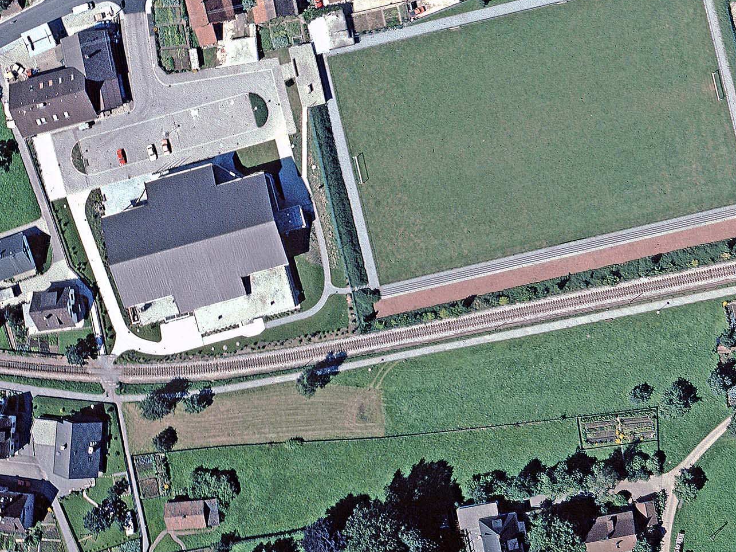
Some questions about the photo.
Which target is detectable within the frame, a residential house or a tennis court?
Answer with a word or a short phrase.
residential house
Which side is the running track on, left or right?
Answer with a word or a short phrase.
right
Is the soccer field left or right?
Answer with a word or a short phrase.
right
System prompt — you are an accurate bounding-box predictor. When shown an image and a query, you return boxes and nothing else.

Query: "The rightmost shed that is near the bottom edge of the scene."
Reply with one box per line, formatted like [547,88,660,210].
[635,500,658,530]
